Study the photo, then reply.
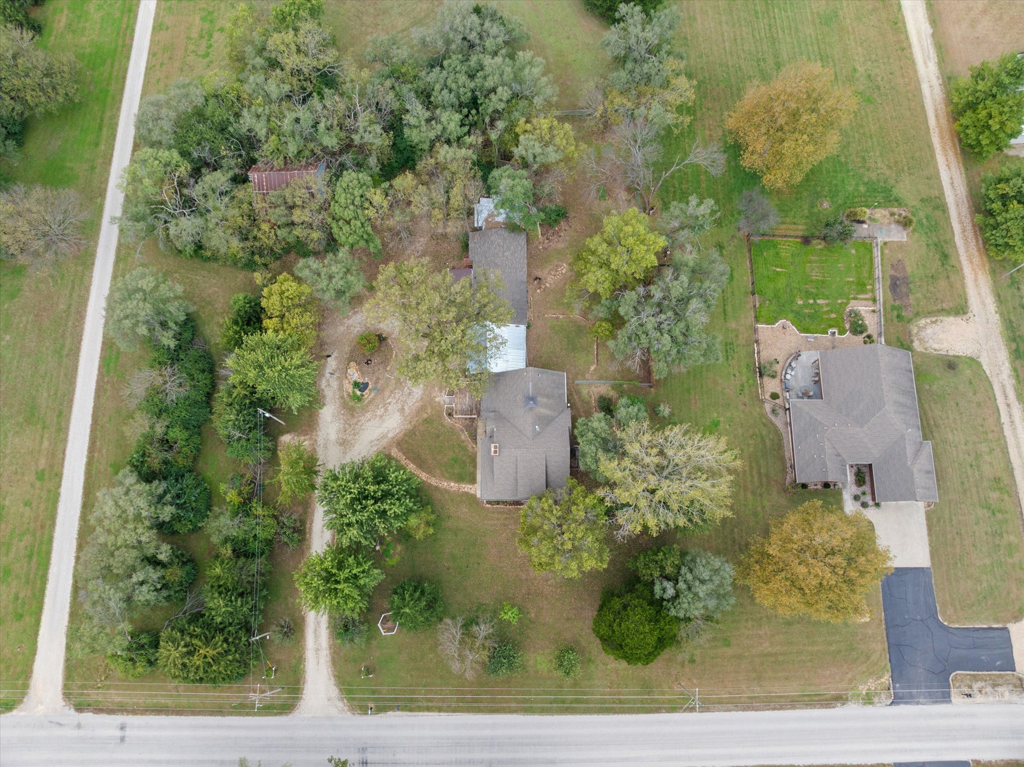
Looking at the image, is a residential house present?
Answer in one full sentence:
Yes, there is a residential house in the image.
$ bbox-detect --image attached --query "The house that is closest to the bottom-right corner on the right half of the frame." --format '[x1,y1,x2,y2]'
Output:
[785,343,939,503]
